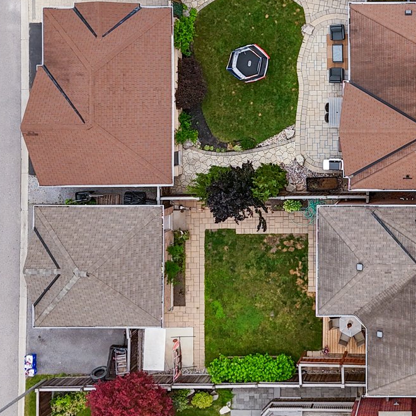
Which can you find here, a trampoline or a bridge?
trampoline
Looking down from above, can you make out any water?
No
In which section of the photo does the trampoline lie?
top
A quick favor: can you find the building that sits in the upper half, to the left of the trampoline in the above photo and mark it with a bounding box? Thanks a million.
[19,1,184,188]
